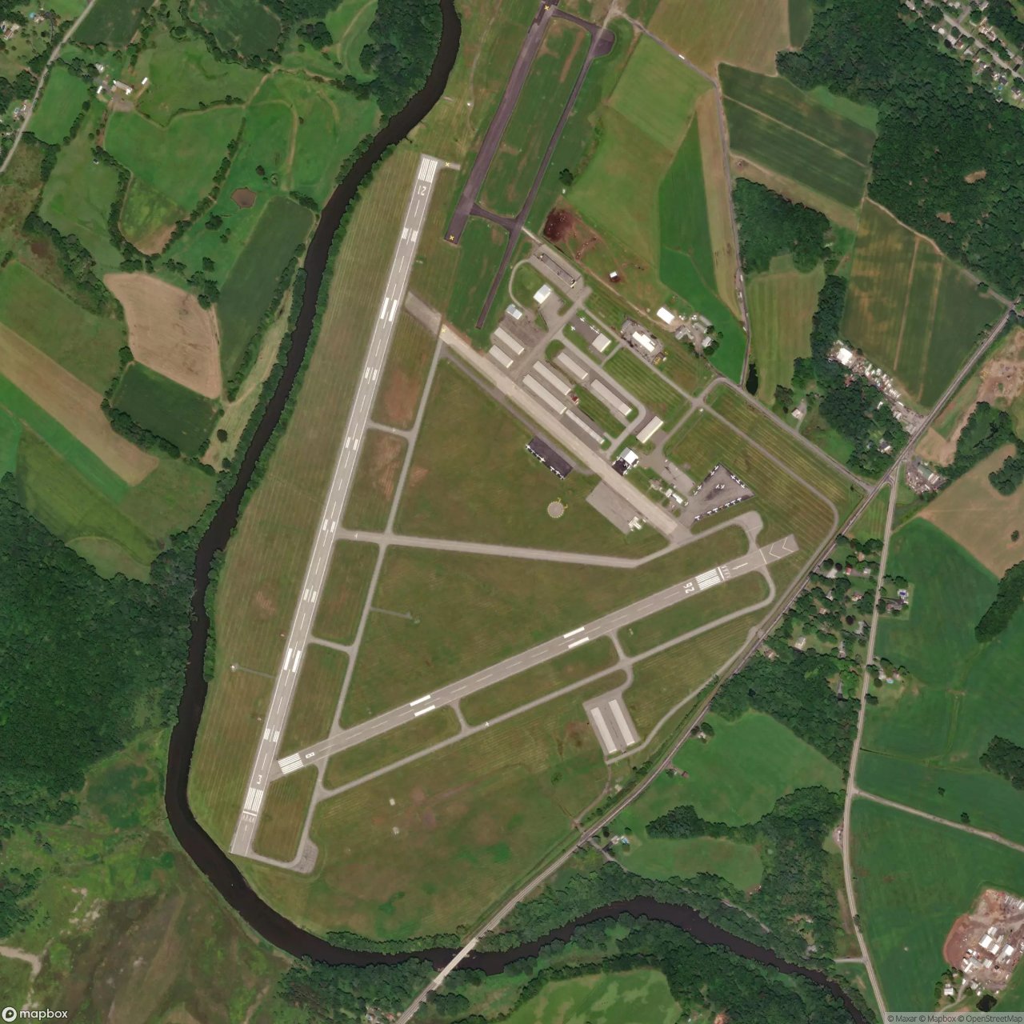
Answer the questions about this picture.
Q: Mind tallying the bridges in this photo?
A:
1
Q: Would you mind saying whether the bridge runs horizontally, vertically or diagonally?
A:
diagonally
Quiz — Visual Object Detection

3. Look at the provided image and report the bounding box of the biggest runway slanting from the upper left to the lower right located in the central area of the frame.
[439,323,677,534]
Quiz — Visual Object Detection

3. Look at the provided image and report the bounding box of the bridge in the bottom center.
[426,933,483,993]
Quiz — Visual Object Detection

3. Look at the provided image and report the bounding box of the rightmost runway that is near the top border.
[444,0,556,244]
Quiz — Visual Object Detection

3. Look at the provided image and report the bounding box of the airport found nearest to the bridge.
[231,0,798,873]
